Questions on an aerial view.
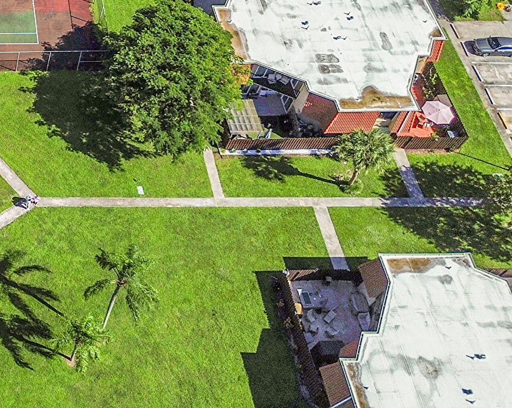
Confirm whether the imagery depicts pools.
No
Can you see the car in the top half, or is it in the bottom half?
top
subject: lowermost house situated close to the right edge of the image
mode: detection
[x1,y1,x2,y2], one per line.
[319,254,512,408]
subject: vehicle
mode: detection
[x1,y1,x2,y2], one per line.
[469,35,512,56]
